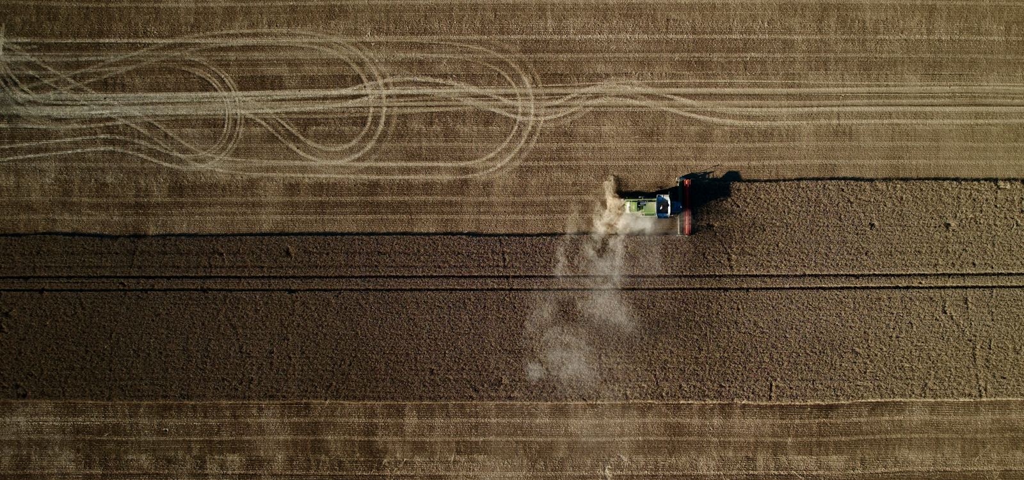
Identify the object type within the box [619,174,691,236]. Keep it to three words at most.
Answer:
work vehicle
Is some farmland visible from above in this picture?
Yes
